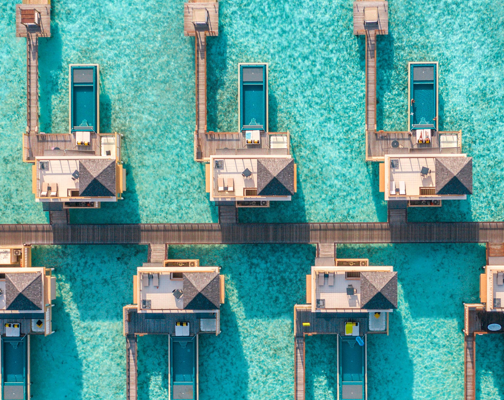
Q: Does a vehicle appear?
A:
No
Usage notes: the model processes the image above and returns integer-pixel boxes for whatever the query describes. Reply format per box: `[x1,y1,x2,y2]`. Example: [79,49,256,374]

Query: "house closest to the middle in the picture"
[193,130,298,211]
